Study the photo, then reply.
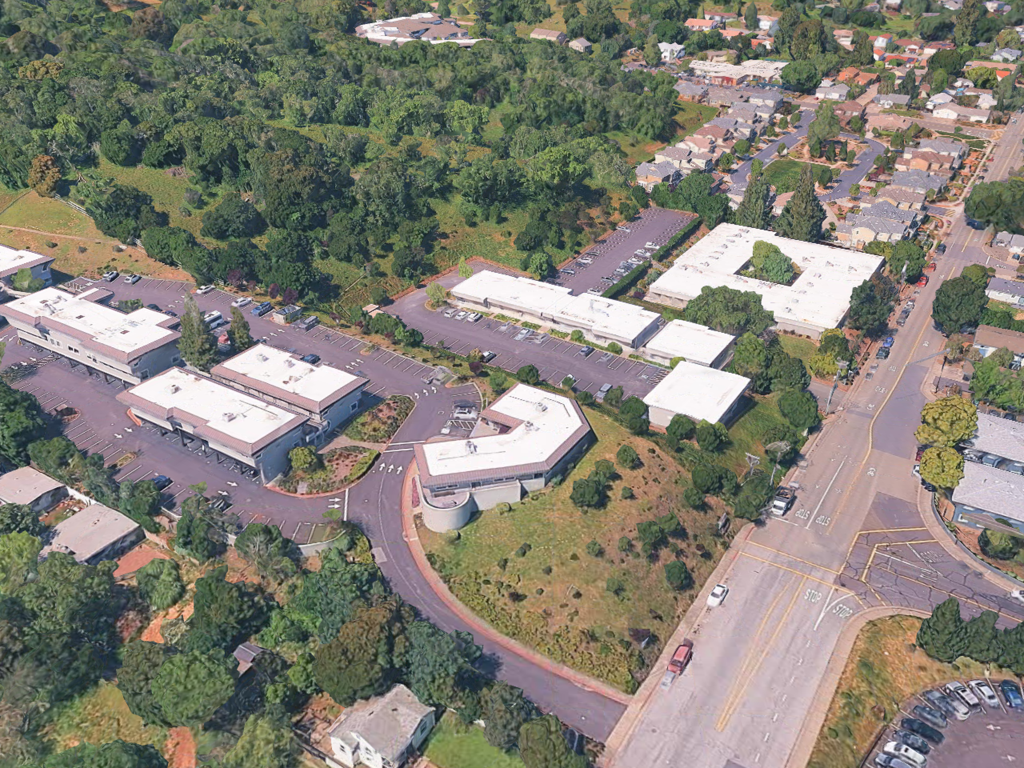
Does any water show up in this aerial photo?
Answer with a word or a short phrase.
No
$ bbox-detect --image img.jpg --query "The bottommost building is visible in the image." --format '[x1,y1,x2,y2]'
[309,675,432,768]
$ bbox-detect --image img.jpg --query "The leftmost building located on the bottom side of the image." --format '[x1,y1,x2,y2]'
[0,466,66,510]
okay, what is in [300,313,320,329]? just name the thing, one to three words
vehicle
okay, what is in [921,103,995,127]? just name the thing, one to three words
house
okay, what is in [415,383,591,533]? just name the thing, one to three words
building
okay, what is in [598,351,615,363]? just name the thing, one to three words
vehicle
